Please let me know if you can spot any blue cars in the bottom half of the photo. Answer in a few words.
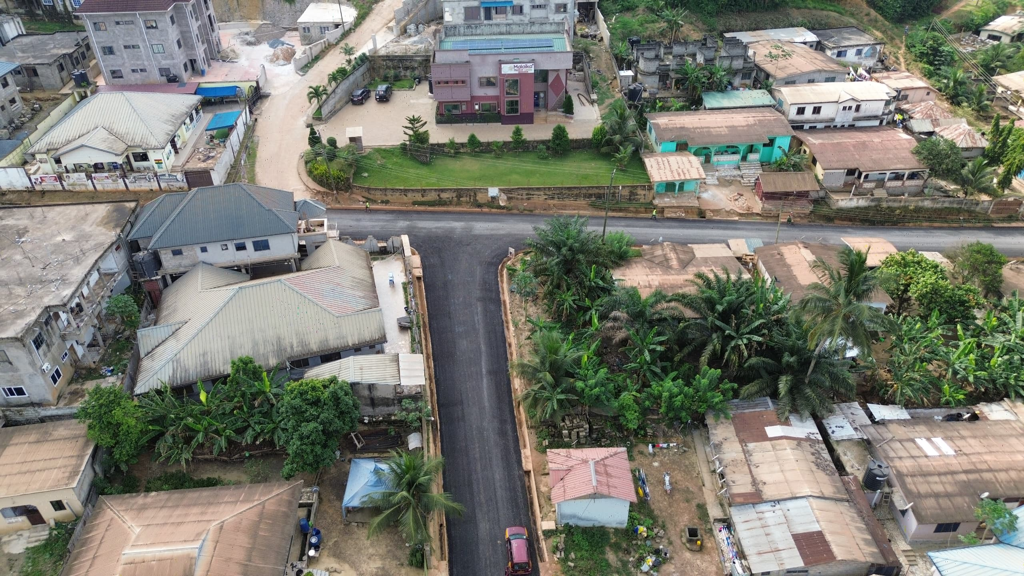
No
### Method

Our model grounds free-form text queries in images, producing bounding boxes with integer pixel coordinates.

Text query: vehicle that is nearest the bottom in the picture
[503,525,531,576]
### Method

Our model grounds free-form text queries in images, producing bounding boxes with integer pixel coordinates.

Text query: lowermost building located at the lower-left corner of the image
[61,479,303,576]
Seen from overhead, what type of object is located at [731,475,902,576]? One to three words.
house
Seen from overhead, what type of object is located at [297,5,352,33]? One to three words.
house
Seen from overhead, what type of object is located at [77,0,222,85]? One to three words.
building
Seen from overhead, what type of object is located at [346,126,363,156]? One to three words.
shed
